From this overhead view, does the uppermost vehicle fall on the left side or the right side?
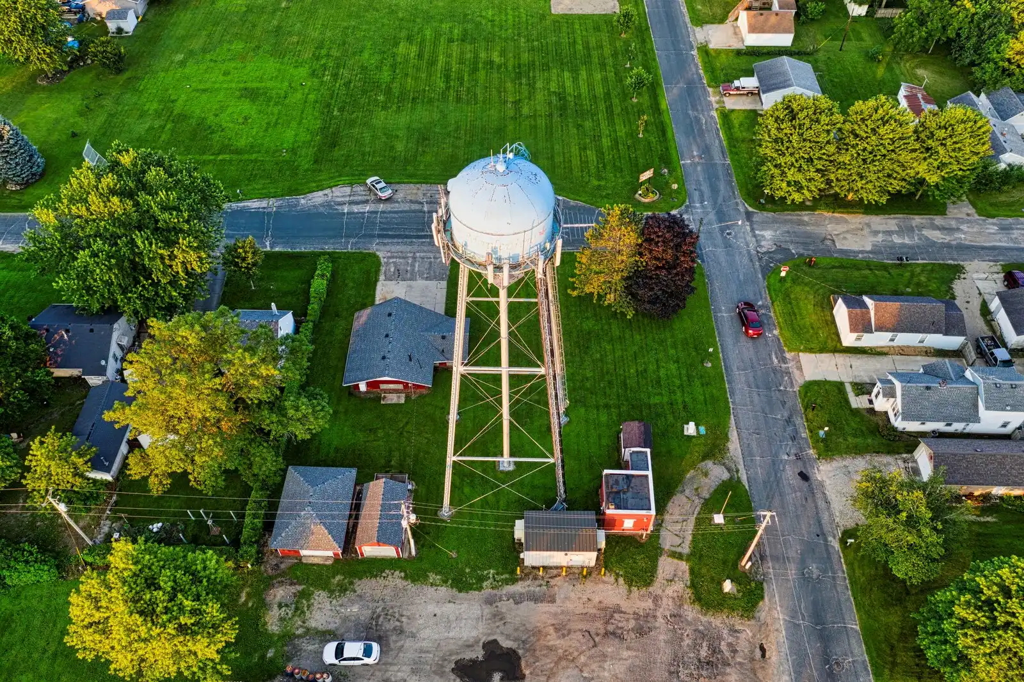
right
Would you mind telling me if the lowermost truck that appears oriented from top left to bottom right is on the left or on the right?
right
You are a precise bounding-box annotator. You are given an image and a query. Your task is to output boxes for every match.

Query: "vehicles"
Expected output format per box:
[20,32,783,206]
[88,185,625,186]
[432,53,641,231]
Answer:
[322,639,380,667]
[719,79,759,99]
[972,331,1011,367]
[735,303,763,336]
[366,177,394,201]
[996,270,1024,290]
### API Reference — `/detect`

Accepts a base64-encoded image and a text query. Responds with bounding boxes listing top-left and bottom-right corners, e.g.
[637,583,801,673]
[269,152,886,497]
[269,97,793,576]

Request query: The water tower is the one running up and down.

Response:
[430,134,570,523]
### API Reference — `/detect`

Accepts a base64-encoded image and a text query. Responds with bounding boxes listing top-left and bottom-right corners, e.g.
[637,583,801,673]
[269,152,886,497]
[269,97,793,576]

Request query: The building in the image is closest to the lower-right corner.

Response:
[918,438,1024,500]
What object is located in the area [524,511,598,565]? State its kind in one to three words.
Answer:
shed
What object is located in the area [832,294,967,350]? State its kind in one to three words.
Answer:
house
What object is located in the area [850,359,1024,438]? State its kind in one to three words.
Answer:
house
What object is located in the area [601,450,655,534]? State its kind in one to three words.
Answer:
building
